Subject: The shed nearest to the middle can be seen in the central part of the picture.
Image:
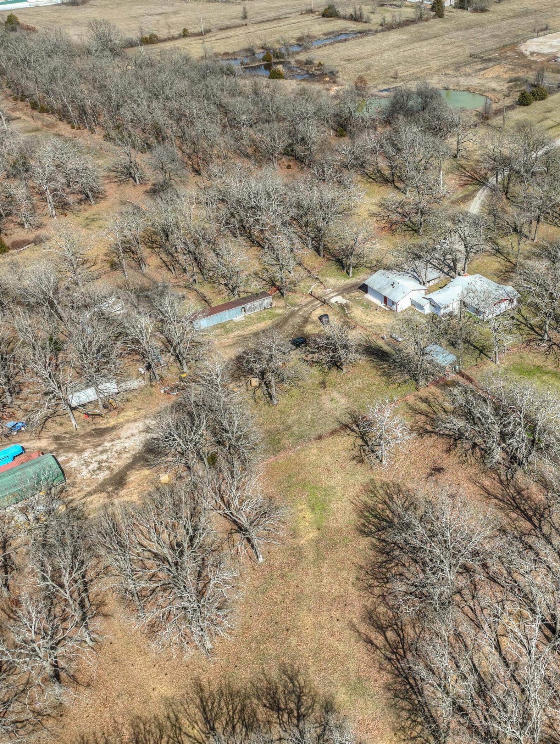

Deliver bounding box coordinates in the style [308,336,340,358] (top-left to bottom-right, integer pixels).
[185,288,273,329]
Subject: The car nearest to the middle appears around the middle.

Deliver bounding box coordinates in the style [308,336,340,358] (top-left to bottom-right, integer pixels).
[285,333,312,346]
